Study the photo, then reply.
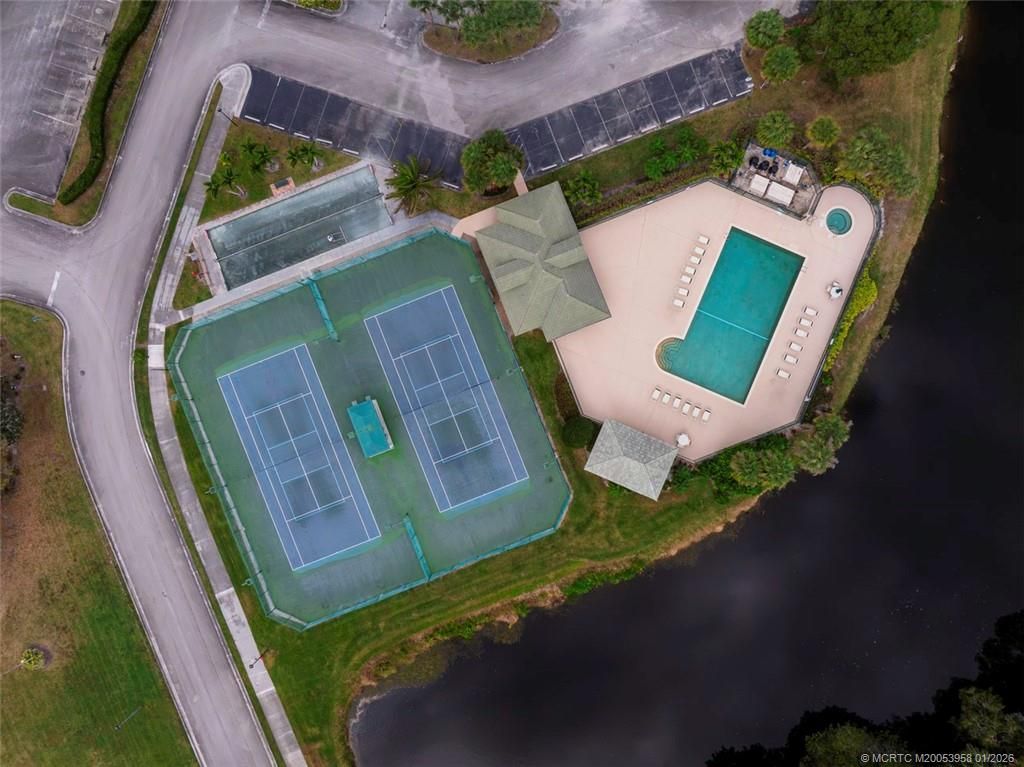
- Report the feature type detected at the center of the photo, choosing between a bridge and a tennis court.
tennis court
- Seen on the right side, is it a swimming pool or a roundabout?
swimming pool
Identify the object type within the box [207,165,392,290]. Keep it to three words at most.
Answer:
sports court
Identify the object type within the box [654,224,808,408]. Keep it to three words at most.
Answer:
swimming pool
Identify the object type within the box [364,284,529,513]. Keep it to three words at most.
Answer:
tennis court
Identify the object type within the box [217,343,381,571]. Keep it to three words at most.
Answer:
tennis court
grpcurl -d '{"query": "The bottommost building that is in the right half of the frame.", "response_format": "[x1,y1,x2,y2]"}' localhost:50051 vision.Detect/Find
[584,418,679,501]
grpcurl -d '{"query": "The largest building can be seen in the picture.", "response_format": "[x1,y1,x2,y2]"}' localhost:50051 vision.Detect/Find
[474,181,611,341]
